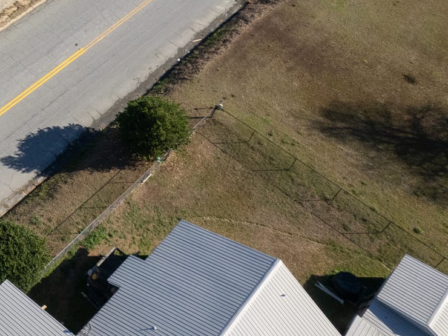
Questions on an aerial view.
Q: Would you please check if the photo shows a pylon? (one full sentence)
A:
No, there appears to be no pylon in this shot.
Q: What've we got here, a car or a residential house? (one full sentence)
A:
The one in the frame is a residential house.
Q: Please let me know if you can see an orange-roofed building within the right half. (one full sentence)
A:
No, no orange-roofed building appears within the right half.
